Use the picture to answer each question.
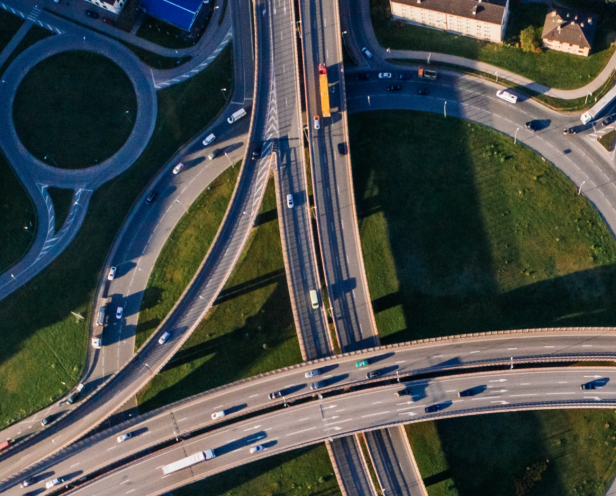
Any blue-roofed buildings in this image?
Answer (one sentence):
Yes, looking at the shot, I can spot a blue-roofed building.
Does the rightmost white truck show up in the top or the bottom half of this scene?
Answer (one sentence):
The top half of the photo is where the rightmost white truck is.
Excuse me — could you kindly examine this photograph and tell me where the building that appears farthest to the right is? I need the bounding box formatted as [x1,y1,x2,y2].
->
[542,10,597,57]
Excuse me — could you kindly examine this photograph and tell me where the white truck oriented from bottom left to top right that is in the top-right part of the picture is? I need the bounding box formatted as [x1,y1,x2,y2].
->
[578,84,616,121]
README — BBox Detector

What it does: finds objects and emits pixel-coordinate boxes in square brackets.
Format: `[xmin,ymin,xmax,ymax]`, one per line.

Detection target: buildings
[389,0,509,46]
[138,0,212,37]
[542,10,597,57]
[79,0,126,16]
